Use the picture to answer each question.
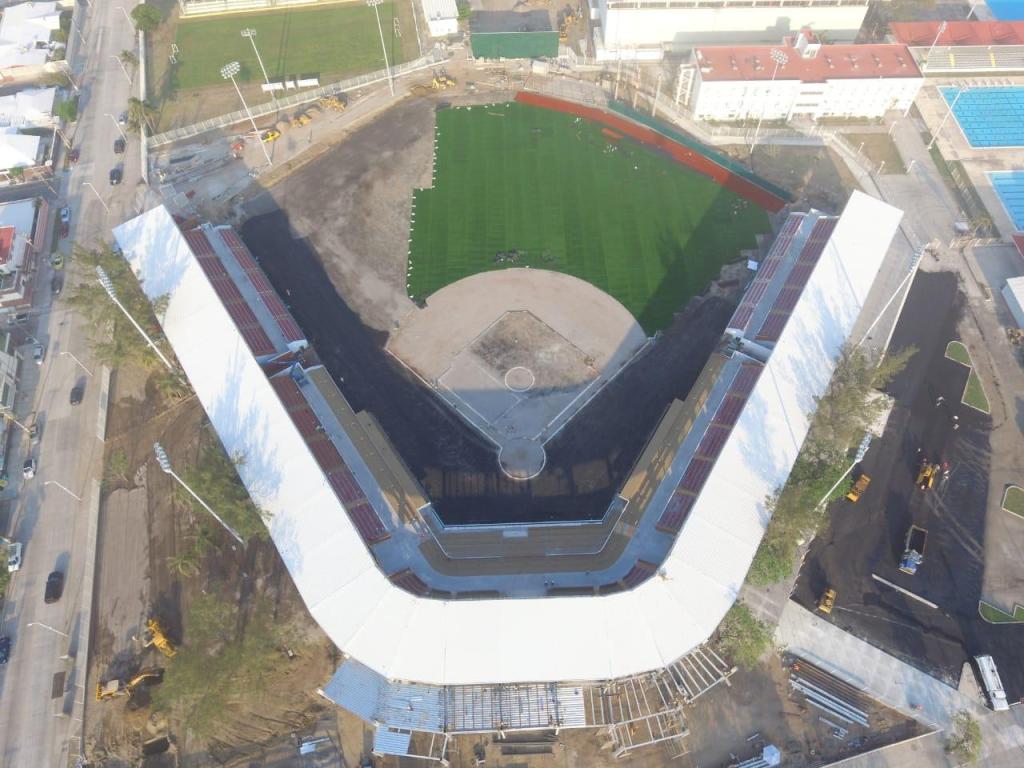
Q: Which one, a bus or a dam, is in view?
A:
bus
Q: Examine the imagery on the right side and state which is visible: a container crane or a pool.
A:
pool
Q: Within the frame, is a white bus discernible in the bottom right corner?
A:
Yes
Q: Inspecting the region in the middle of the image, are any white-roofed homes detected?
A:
No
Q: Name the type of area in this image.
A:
sports ground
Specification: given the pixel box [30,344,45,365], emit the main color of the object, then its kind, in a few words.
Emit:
gray car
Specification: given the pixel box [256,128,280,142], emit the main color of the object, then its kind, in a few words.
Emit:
yellow vehicle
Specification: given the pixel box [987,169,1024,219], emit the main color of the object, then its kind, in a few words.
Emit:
blue swimming pool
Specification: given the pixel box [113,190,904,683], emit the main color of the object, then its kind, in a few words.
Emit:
white stadium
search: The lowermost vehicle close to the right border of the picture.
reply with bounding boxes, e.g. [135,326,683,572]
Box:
[968,656,1008,712]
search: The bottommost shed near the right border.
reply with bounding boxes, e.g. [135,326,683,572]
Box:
[994,277,1024,338]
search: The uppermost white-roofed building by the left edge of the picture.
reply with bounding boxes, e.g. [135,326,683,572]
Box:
[0,1,67,60]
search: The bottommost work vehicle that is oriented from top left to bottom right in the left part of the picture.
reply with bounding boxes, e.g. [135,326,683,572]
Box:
[141,617,178,663]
